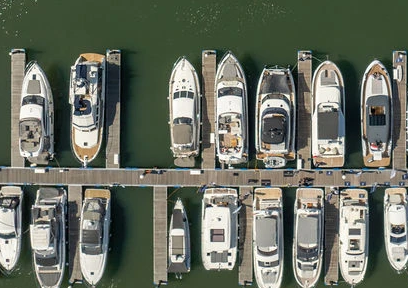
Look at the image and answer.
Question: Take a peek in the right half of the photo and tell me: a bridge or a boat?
boat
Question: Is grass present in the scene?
No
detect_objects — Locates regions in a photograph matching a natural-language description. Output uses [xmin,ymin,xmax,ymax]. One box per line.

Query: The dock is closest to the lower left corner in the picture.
[68,186,82,284]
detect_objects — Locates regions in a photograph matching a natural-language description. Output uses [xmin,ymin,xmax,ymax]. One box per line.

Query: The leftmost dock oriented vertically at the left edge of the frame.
[11,48,26,167]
